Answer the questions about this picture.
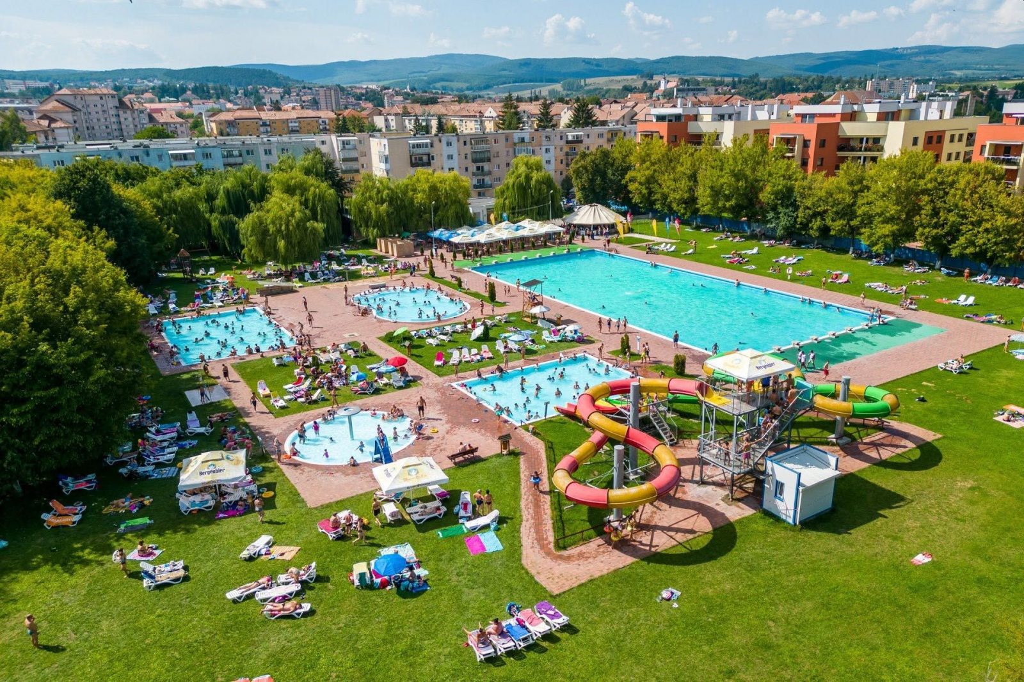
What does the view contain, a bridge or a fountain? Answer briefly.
fountain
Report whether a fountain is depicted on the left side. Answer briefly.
Yes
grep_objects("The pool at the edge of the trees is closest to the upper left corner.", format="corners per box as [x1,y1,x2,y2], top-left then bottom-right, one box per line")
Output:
[161,307,295,366]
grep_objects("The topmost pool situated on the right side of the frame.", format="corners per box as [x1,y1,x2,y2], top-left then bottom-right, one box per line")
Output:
[469,250,884,355]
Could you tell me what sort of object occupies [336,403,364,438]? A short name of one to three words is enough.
fountain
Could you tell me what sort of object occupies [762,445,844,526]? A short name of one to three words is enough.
shed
